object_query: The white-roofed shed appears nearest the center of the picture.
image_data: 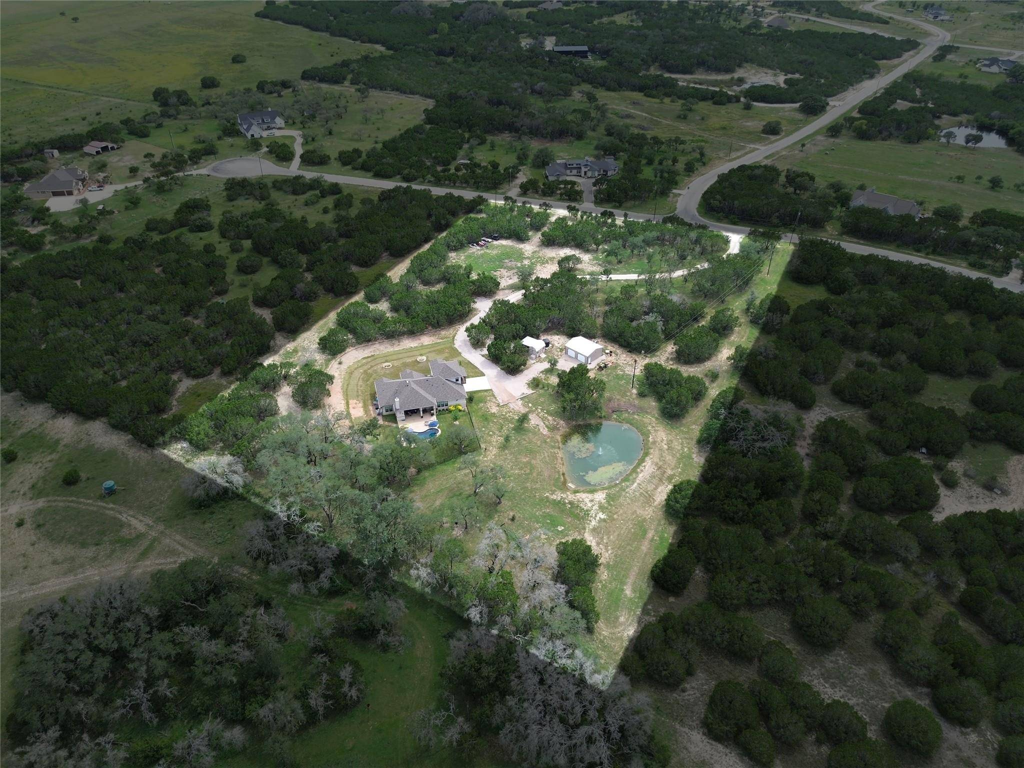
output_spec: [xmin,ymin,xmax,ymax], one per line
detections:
[521,339,546,359]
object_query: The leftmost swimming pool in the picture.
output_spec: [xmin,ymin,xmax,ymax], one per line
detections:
[413,427,441,441]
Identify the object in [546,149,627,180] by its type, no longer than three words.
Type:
house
